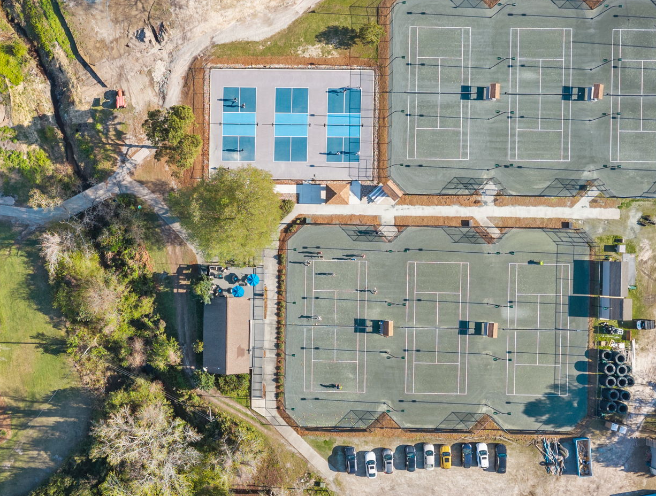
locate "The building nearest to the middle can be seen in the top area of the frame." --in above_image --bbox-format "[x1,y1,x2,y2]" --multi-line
[324,183,350,205]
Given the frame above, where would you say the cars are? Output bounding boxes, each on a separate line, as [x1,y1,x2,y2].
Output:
[344,445,356,472]
[474,440,489,468]
[363,449,377,477]
[439,443,452,468]
[459,441,473,467]
[403,443,416,470]
[493,441,508,471]
[422,441,434,468]
[380,446,394,472]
